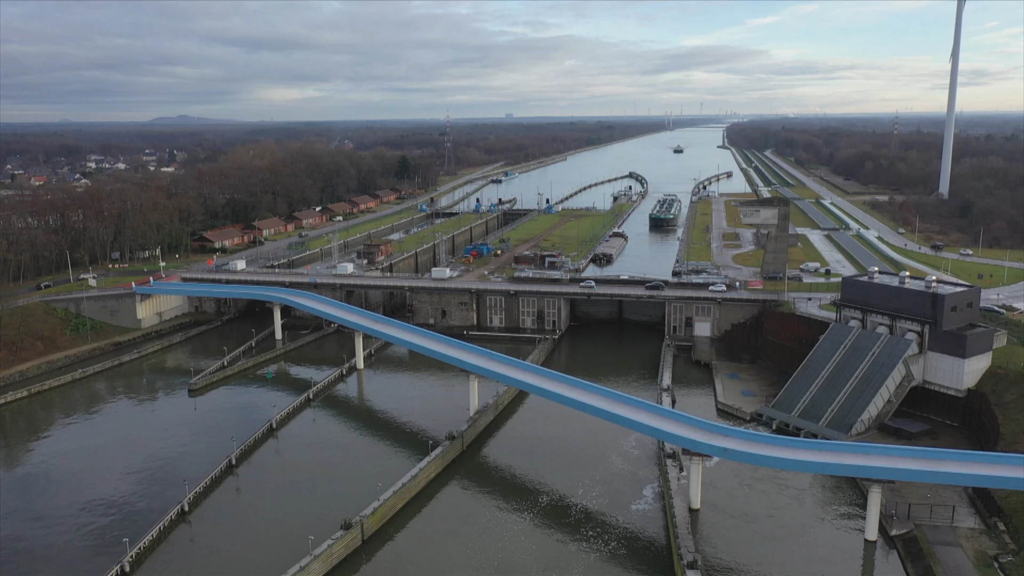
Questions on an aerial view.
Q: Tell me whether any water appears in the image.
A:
Yes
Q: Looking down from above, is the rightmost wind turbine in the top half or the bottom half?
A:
top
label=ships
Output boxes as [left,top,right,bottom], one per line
[651,190,685,224]
[675,143,685,152]
[595,223,635,267]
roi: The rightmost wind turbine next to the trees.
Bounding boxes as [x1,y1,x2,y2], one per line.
[938,0,966,193]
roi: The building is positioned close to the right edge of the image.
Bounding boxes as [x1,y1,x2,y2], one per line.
[758,269,1004,442]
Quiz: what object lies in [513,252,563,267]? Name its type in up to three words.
building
